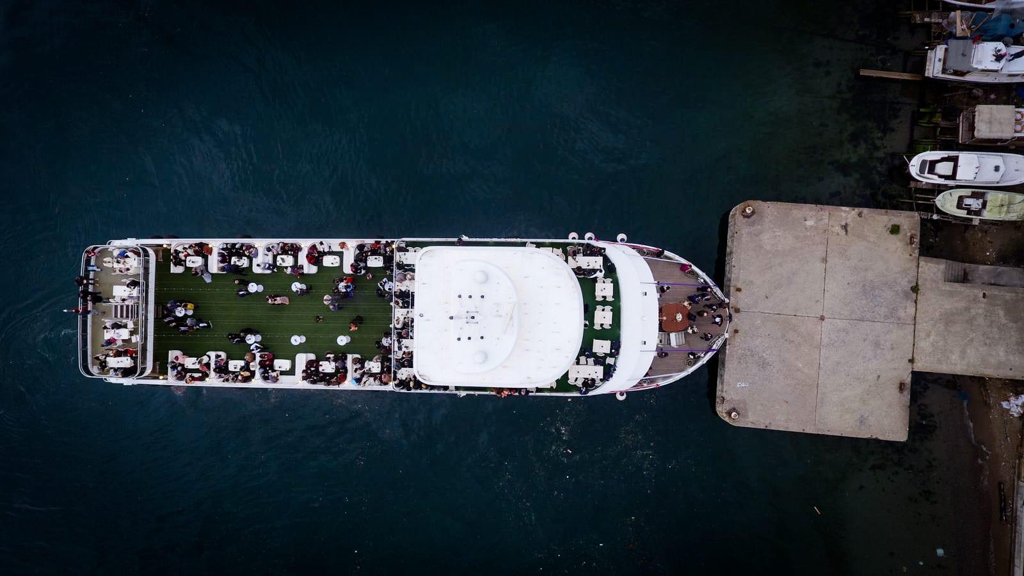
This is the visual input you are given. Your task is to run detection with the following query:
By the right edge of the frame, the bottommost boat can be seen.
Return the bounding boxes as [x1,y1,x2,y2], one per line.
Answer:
[935,188,1024,221]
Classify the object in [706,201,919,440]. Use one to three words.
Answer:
pier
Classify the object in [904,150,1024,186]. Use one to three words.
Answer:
boat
